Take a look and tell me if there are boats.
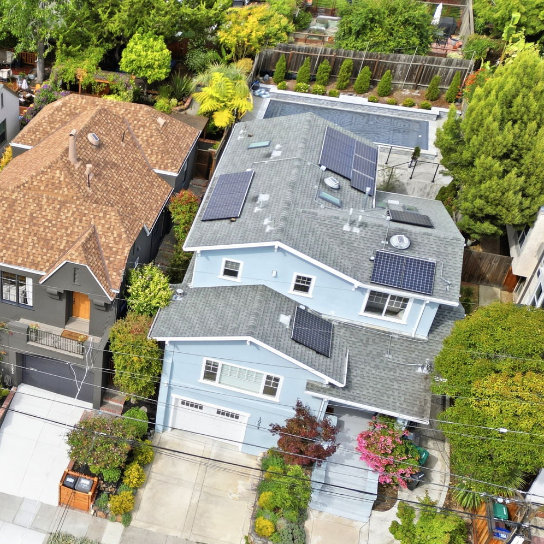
No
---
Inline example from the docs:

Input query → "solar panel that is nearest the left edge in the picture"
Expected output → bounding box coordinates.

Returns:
[201,168,255,220]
